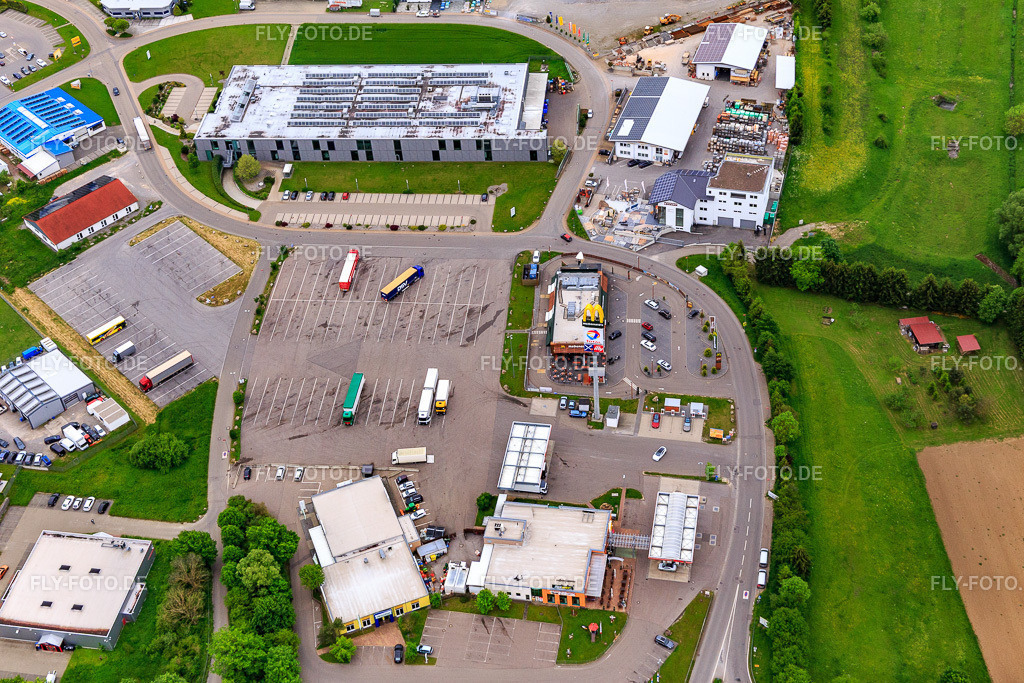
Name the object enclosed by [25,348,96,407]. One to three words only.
building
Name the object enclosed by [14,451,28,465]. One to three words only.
car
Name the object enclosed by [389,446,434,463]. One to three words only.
vehicle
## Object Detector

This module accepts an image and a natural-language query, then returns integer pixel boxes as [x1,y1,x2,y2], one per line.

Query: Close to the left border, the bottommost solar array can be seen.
[33,177,112,216]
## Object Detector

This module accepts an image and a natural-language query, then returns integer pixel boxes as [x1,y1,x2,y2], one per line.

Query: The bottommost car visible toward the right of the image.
[654,635,674,649]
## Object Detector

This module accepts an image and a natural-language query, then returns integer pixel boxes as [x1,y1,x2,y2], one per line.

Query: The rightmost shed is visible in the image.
[957,334,980,358]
